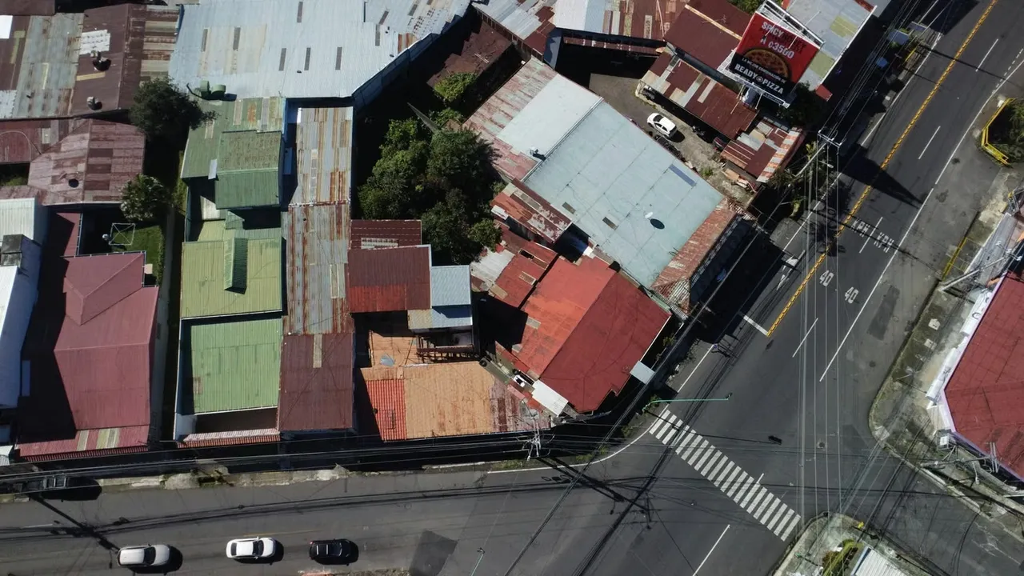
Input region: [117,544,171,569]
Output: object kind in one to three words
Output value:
car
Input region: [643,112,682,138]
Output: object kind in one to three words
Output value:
car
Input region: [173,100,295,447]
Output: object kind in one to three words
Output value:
house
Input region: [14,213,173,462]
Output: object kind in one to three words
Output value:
house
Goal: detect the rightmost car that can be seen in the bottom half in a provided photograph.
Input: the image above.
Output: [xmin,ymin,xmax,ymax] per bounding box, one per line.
[307,539,357,564]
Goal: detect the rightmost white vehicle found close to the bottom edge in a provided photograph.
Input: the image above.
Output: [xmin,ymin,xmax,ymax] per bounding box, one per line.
[225,536,277,561]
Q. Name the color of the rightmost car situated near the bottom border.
black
